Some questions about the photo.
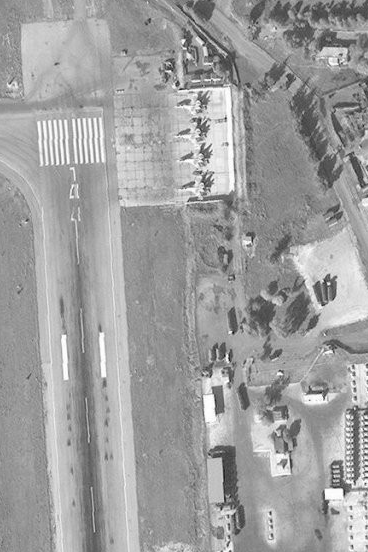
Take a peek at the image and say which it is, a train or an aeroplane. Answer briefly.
aeroplane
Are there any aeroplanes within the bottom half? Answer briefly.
No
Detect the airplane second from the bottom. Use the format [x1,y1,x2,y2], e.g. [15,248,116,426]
[181,152,210,173]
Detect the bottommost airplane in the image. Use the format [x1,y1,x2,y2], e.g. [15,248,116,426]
[181,178,211,199]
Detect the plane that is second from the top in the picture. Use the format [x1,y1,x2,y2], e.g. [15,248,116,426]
[179,125,208,146]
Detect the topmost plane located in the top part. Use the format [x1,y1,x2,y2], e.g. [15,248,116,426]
[177,98,207,119]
